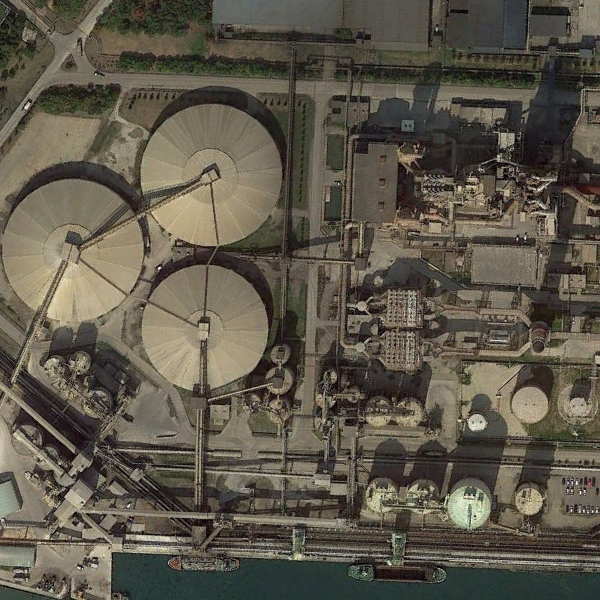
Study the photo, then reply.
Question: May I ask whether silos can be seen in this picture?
Yes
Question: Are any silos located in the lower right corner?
Yes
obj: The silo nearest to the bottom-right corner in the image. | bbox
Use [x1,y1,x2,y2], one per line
[513,481,543,516]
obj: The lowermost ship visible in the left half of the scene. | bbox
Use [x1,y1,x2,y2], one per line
[158,553,246,572]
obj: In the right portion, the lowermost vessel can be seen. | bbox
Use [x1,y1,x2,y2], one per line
[337,561,461,583]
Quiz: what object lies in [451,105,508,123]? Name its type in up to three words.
shed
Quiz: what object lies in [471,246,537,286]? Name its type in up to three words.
building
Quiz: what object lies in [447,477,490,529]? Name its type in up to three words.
storage tank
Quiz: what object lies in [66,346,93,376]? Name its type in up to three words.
silo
